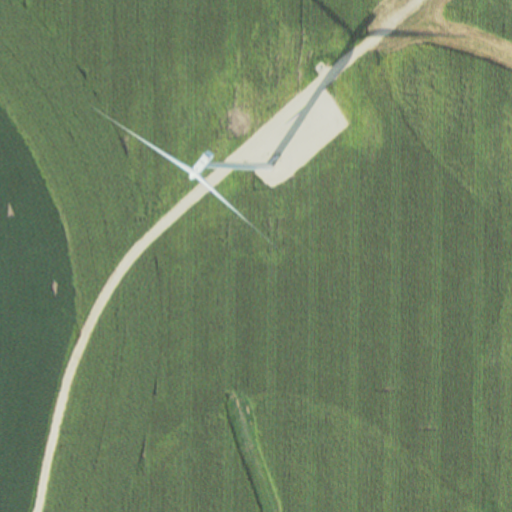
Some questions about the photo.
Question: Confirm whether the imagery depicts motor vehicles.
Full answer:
No, no motor vehicle is visible in the view.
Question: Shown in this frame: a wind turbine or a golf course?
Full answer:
The one in the frame is a wind turbine.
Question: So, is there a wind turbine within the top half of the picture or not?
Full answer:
Yes, a wind turbine is visible within the top half of the picture.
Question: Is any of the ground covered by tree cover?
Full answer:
No, there's no tree cover in this view.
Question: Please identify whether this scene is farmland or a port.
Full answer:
The area seen from above is farmland.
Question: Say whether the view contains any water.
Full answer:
No, the picture contains no water.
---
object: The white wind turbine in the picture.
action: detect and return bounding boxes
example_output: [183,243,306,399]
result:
[88,105,281,244]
